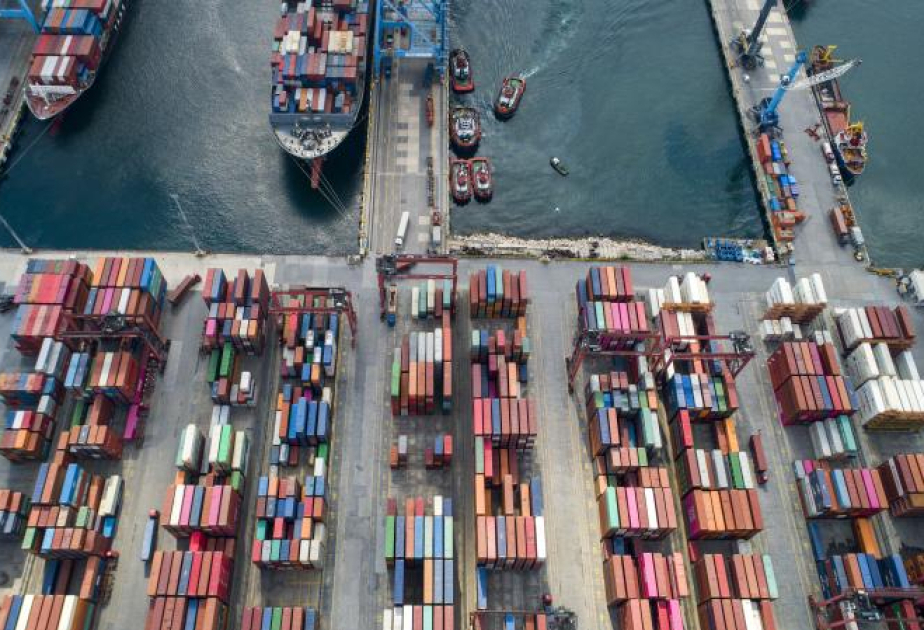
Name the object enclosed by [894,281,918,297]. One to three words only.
work vehicle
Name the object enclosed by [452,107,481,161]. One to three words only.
boat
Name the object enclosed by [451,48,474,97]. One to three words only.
boat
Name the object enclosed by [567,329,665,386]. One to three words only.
container crane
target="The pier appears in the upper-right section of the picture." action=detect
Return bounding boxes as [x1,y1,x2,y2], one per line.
[707,0,869,261]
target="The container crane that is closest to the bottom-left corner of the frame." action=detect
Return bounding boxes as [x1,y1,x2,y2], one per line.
[49,310,172,367]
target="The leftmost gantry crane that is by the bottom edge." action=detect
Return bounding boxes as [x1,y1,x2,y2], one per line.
[469,602,580,630]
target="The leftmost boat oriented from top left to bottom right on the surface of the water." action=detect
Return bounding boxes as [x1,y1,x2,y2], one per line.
[553,156,570,174]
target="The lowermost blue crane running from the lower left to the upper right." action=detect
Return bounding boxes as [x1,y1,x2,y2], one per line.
[743,53,863,134]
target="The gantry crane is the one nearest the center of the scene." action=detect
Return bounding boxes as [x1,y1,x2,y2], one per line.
[375,253,458,311]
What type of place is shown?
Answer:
port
